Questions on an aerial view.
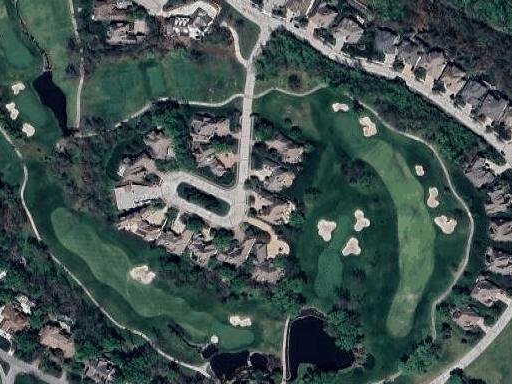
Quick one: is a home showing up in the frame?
Yes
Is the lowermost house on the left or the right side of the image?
left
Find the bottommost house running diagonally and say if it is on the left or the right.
left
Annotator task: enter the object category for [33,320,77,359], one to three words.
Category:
house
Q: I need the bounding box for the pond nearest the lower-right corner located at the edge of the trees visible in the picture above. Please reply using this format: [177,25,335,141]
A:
[287,317,354,379]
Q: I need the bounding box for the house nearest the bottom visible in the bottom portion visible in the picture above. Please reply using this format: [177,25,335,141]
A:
[81,361,118,384]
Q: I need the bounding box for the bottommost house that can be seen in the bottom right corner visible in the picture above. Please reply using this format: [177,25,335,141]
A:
[450,306,485,330]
